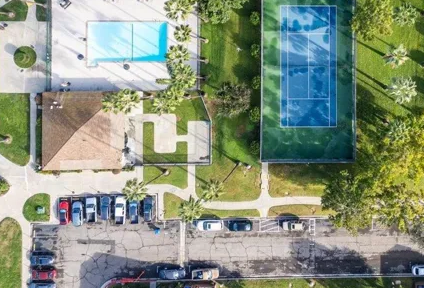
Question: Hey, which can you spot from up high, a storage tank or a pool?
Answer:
pool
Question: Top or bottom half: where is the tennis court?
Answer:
top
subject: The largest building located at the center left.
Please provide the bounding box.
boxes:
[42,91,128,170]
